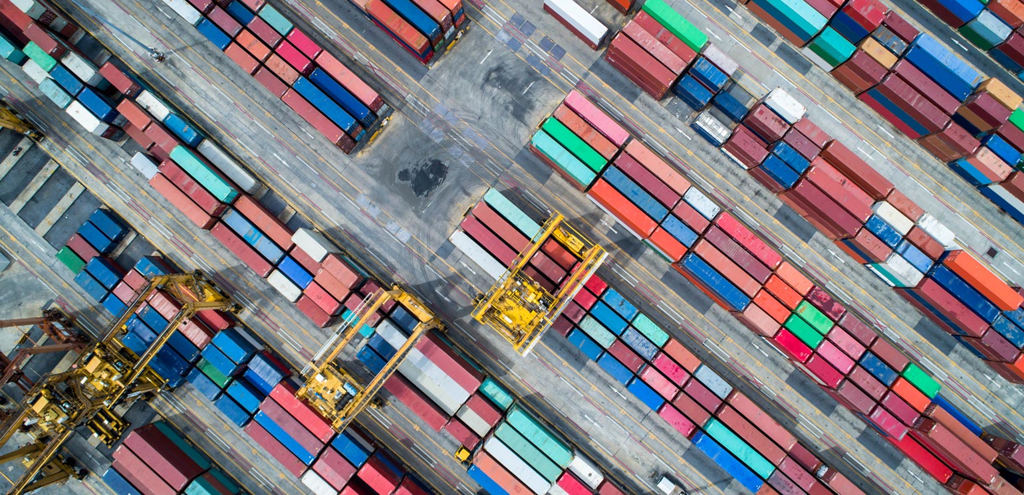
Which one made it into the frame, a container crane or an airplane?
container crane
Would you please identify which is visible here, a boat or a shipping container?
shipping container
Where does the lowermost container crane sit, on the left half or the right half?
left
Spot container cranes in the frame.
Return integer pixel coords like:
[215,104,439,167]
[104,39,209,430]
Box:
[289,283,446,436]
[0,98,46,142]
[0,374,147,495]
[471,212,614,362]
[60,267,243,422]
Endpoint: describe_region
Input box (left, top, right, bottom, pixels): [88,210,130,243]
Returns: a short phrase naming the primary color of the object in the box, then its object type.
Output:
blue shipping container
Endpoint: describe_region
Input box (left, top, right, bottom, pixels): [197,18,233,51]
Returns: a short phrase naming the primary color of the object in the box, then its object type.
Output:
blue shipping container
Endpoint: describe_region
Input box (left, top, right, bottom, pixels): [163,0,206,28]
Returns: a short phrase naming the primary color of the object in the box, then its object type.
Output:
white shipping container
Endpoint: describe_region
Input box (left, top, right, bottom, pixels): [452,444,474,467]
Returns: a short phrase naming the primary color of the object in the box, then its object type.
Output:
yellow truck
